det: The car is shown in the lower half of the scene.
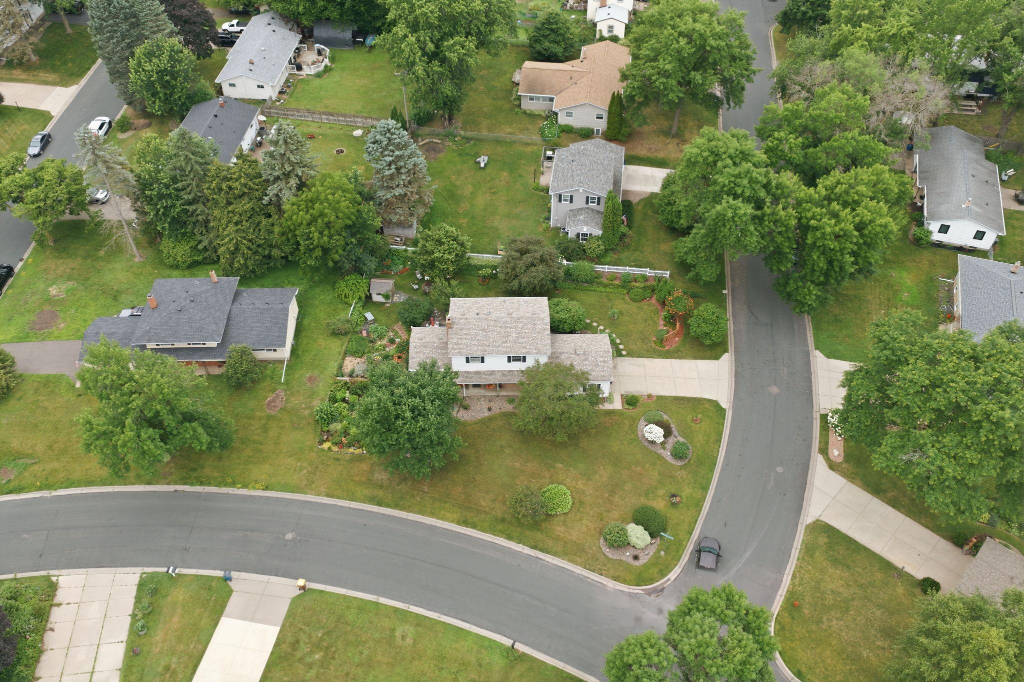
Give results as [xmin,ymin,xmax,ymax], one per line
[696,535,723,575]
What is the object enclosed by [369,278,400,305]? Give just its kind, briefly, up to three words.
shed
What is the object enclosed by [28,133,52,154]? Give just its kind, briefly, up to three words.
car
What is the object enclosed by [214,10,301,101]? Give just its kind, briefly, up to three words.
house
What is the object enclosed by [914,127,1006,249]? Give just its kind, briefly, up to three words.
house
